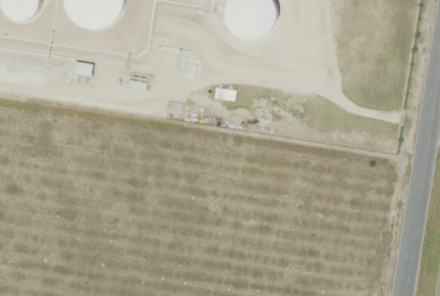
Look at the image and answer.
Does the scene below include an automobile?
No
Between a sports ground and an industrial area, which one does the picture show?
industrial area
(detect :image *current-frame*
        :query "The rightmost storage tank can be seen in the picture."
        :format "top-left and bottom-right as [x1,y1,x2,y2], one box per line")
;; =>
[224,0,279,42]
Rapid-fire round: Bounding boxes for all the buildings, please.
[215,88,238,102]
[72,62,94,77]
